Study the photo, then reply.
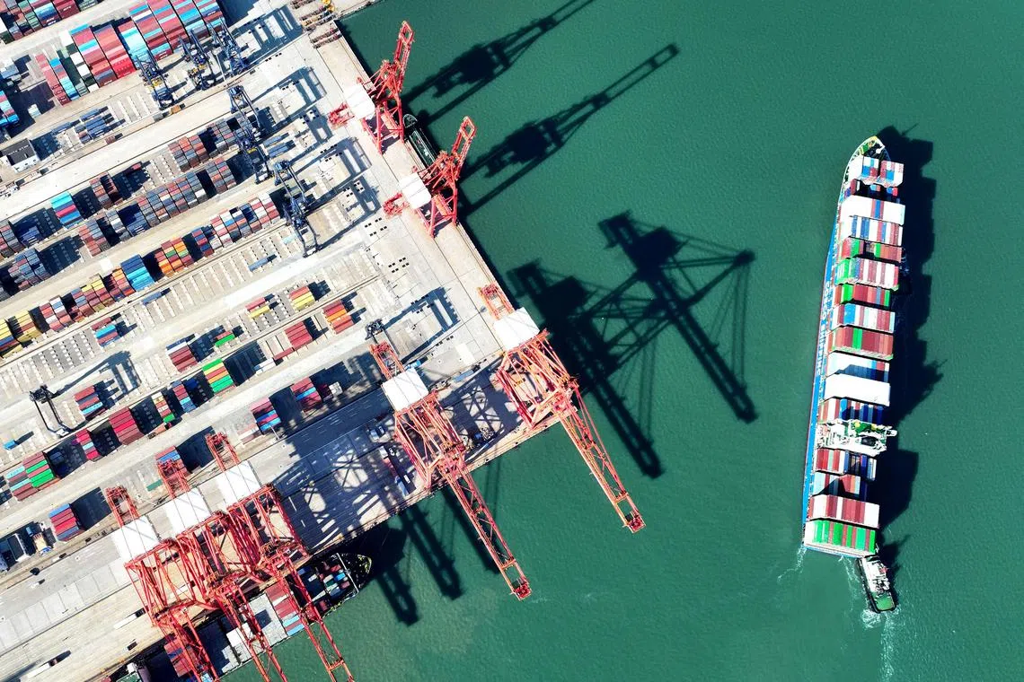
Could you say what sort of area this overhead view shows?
port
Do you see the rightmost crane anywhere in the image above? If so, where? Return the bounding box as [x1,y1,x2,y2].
[476,278,648,536]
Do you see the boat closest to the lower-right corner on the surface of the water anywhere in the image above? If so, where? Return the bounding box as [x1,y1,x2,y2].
[861,556,895,614]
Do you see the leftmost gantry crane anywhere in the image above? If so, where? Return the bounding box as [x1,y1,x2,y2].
[22,382,75,440]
